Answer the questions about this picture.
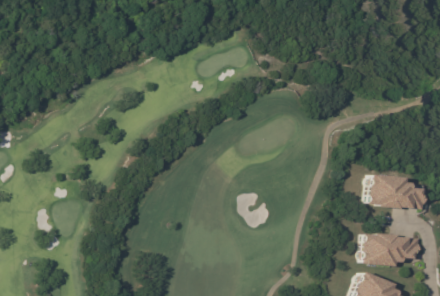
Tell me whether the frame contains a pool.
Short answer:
No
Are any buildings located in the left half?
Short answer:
No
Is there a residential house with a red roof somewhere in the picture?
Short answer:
No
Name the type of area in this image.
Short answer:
golf course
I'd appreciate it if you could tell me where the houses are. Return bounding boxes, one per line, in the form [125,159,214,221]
[362,176,428,210]
[353,234,422,268]
[345,270,402,296]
